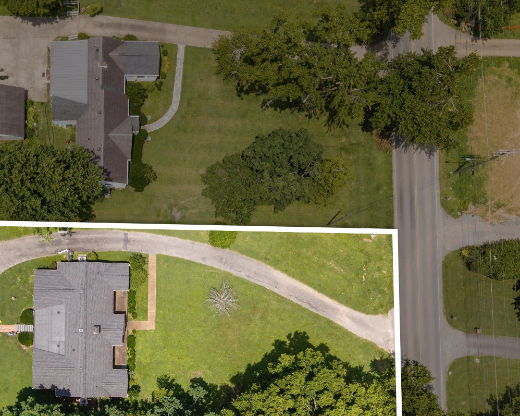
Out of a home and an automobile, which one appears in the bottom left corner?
home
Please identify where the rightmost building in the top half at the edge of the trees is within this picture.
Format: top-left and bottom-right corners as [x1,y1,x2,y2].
[50,31,160,187]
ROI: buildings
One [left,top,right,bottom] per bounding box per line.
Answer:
[32,262,133,398]
[0,83,25,142]
[50,31,160,187]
